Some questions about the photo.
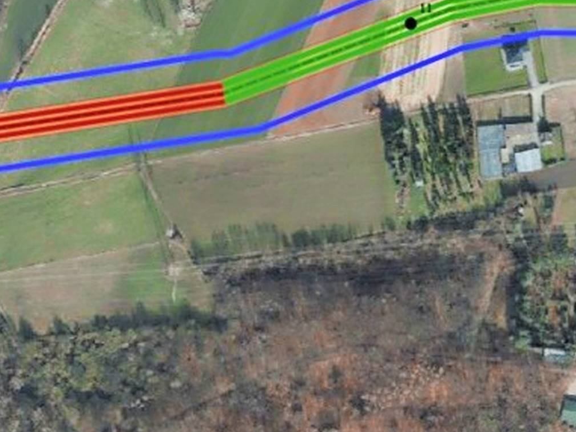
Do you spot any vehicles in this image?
No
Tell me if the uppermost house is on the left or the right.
right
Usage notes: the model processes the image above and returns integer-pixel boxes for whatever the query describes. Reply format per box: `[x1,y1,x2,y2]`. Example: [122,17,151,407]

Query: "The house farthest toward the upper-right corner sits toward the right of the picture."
[506,42,530,65]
